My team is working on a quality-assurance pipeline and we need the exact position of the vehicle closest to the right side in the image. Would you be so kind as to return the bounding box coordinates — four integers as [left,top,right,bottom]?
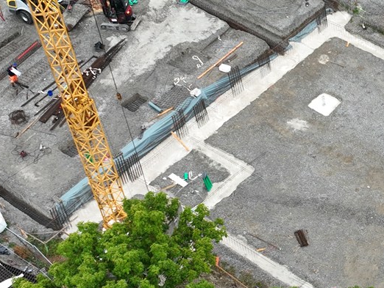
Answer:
[98,0,144,31]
